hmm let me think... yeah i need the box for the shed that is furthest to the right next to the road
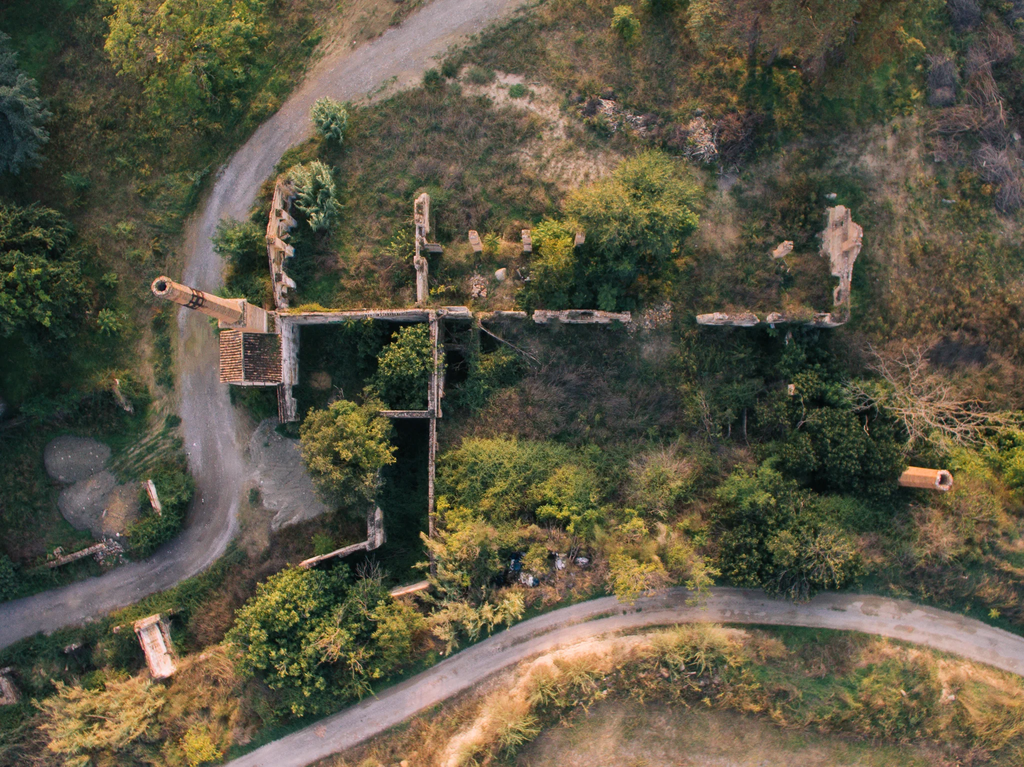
[218,331,285,392]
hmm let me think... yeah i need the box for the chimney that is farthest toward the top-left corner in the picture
[155,279,277,333]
